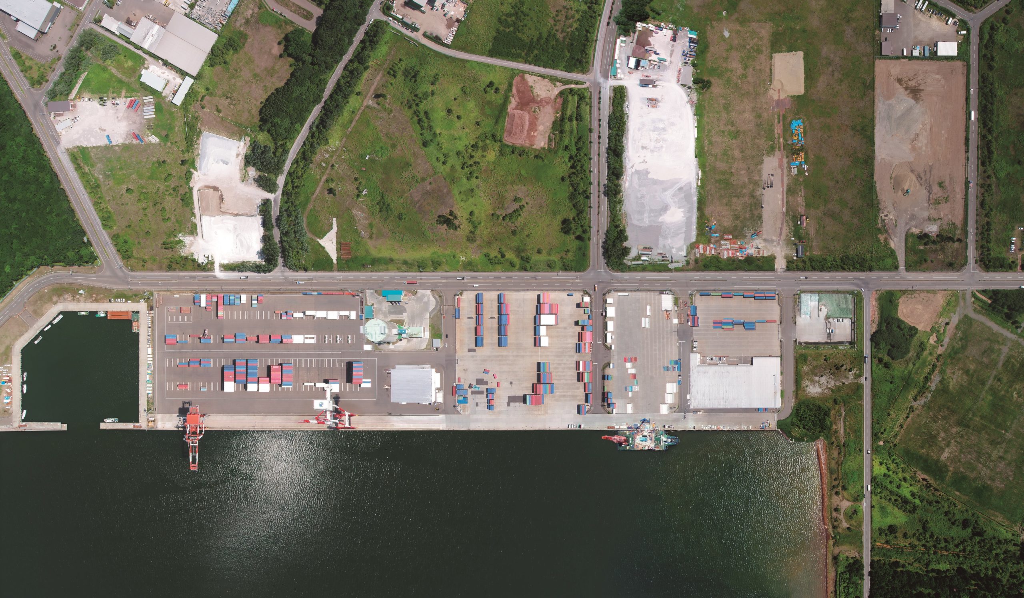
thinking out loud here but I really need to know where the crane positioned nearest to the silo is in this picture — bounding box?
[315,386,352,445]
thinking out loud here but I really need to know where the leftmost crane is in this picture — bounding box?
[180,405,217,473]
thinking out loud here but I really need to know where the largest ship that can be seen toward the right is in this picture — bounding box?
[601,430,664,450]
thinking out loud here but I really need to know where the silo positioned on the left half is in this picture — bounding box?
[359,318,393,343]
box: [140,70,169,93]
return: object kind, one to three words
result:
building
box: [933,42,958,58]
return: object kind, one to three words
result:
building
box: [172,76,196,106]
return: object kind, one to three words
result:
shed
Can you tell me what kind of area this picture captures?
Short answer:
port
